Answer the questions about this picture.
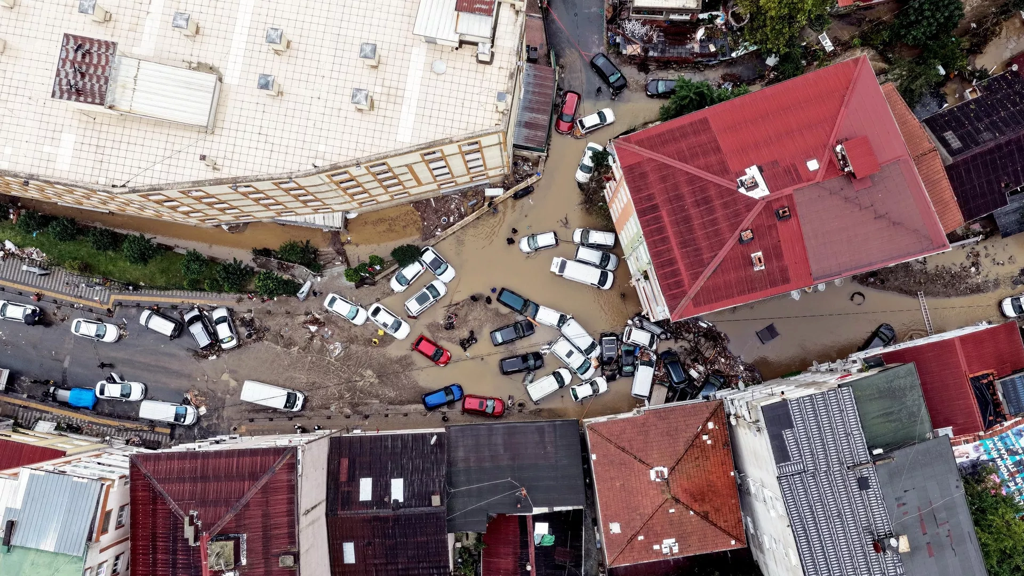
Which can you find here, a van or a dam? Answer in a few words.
van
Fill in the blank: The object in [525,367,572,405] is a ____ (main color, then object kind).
white van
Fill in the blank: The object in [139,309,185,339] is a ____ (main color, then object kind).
white car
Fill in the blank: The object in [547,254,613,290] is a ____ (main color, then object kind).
white van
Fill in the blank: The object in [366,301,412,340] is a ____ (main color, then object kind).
white car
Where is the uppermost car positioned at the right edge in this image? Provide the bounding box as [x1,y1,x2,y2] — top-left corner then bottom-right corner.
[996,291,1024,317]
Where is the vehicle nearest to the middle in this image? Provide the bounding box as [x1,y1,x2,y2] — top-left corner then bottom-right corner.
[496,288,537,322]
